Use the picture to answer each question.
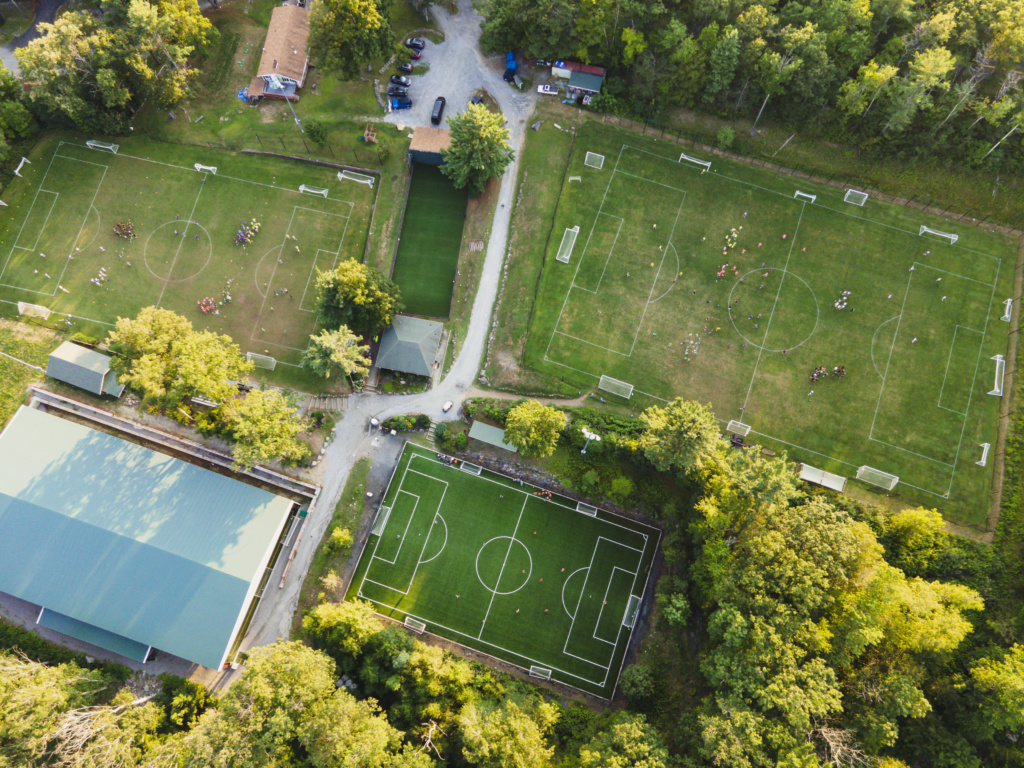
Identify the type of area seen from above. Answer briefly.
sports ground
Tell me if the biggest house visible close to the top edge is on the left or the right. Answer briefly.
left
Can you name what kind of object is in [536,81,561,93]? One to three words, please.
vehicle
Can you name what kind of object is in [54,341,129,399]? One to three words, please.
shed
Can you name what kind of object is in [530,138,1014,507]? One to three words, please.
sports field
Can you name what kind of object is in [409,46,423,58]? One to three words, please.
vehicle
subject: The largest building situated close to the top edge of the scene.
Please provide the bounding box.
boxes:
[248,1,310,101]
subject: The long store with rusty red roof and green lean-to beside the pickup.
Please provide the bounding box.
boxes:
[553,60,606,98]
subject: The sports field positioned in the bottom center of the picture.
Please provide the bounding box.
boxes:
[343,442,662,701]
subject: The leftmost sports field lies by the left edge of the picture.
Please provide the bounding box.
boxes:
[0,140,359,370]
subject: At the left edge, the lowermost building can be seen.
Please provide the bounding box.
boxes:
[0,402,307,672]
